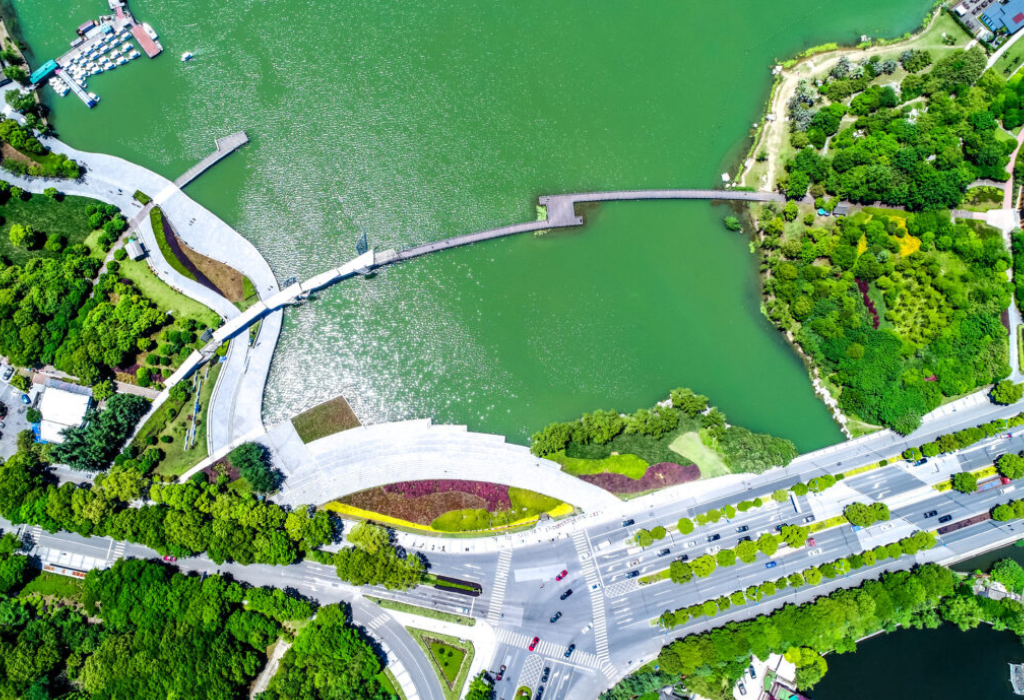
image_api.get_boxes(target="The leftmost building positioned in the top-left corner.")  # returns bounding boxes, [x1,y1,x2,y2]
[30,60,61,86]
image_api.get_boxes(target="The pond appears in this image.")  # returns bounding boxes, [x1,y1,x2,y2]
[808,606,1024,700]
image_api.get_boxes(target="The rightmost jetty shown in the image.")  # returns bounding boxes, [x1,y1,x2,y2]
[176,129,249,187]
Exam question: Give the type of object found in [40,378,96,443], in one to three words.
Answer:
building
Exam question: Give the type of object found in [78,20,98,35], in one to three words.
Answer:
boat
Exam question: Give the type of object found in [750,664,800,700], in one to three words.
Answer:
house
